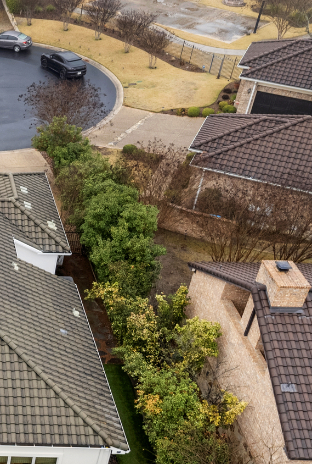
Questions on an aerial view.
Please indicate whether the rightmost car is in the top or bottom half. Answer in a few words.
top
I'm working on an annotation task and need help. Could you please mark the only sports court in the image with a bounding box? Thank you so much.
[96,0,273,43]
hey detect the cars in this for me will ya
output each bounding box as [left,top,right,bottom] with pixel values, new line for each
[39,52,88,81]
[0,30,33,55]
